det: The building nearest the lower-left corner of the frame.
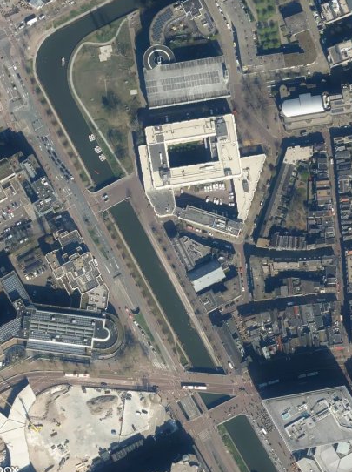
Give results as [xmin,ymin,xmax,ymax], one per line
[0,385,36,469]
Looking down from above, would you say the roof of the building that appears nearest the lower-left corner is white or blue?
white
